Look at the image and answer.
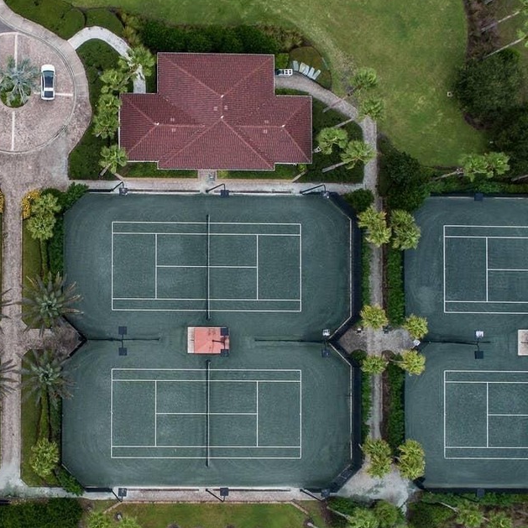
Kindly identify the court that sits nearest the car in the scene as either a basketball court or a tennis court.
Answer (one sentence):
Specifically, the court that sits nearest the car is a tennis court.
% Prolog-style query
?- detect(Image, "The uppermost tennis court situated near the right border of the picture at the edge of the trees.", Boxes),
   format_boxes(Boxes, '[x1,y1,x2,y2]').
[402,196,528,341]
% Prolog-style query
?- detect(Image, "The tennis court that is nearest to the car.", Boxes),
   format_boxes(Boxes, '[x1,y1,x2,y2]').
[64,192,352,340]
